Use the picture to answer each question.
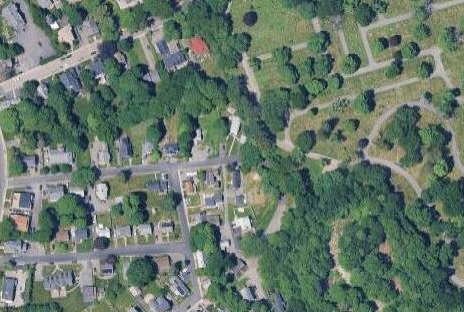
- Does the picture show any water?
No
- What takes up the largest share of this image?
trees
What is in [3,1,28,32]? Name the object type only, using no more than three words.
house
